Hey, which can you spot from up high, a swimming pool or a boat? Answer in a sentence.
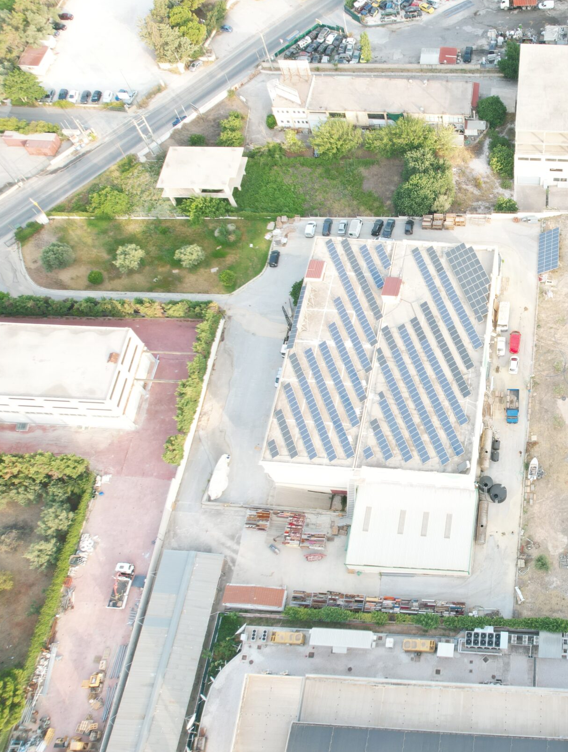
The one in the frame is a boat.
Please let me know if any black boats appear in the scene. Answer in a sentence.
No, there is no black boat in the image.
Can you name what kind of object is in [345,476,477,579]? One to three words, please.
building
